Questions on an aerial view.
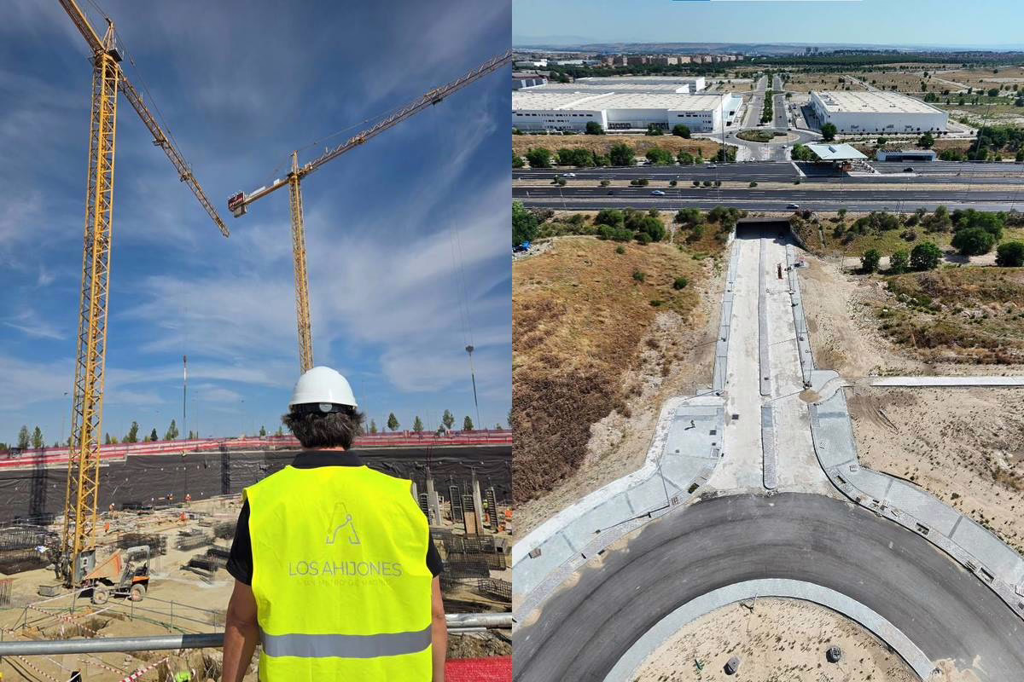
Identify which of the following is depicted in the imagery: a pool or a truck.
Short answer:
truck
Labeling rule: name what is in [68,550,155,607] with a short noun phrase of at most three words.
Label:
truck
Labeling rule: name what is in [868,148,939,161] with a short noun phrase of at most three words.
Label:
building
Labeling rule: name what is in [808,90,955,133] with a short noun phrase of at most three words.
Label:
building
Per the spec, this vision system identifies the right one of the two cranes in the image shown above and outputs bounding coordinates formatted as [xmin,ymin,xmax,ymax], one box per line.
[225,46,511,451]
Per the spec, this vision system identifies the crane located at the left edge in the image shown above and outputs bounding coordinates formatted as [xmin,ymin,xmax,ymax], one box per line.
[50,0,234,593]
